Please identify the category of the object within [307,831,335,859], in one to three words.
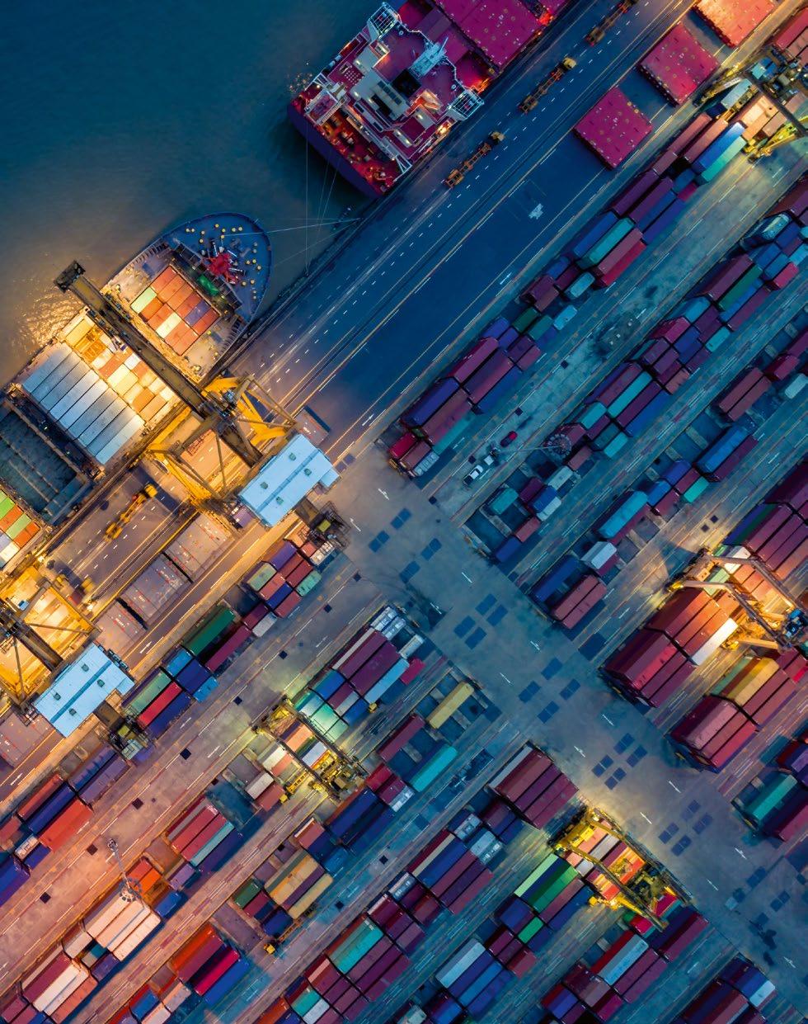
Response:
shipping container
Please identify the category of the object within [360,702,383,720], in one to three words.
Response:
vehicle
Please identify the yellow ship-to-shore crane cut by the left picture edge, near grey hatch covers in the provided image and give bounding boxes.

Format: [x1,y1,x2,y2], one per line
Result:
[0,555,151,757]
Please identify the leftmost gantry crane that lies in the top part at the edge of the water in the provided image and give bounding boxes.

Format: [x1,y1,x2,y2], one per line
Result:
[49,246,354,550]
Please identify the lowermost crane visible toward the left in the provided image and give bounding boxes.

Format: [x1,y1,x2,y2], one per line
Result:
[249,690,383,817]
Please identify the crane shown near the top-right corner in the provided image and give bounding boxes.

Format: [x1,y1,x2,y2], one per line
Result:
[694,25,808,165]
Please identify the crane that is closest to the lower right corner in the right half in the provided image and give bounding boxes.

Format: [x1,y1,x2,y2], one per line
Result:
[546,801,707,942]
